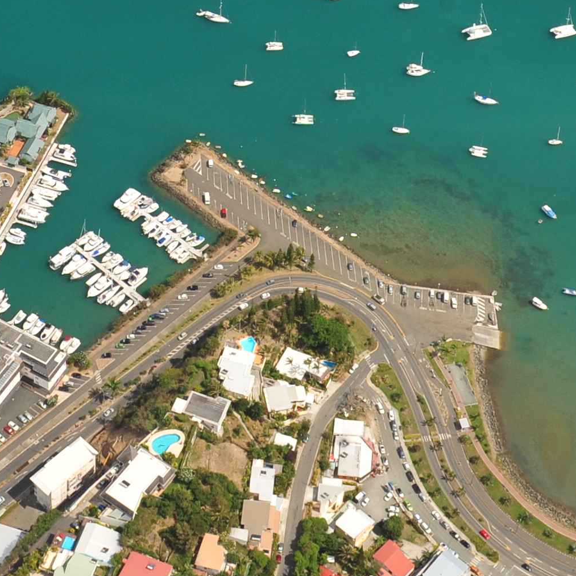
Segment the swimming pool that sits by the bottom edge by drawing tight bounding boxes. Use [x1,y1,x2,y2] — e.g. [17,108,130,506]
[60,535,75,551]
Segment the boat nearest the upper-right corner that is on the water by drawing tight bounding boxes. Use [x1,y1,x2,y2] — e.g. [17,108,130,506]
[550,8,576,38]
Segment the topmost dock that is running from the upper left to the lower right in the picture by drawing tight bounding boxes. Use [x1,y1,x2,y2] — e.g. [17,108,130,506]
[131,208,210,265]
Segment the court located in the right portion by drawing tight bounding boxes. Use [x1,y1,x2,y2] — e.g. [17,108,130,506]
[448,363,477,405]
